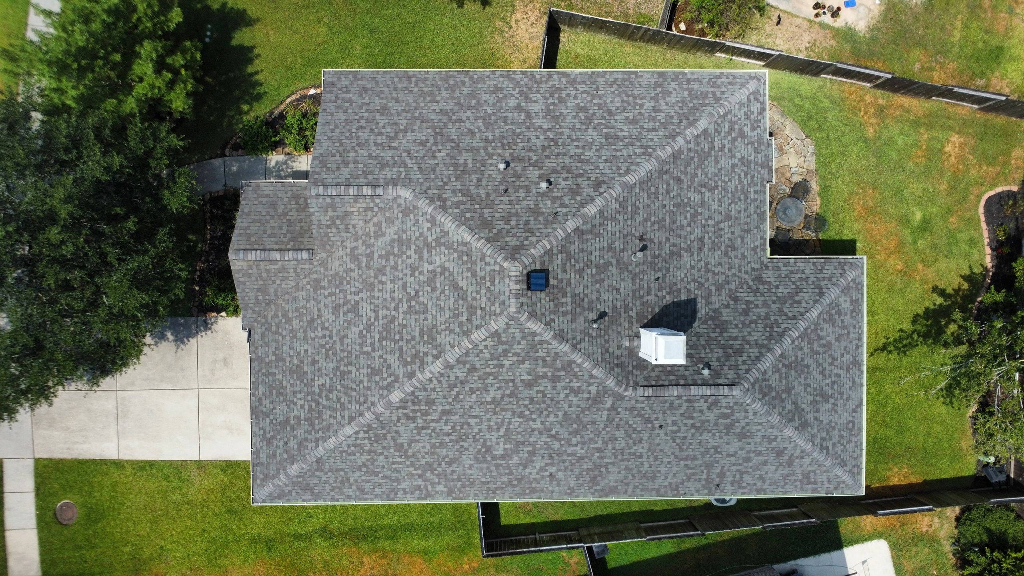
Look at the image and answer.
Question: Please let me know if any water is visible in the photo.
No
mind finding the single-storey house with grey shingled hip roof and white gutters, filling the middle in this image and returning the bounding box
[229,69,866,504]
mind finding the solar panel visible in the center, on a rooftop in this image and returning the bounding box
[531,272,546,290]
